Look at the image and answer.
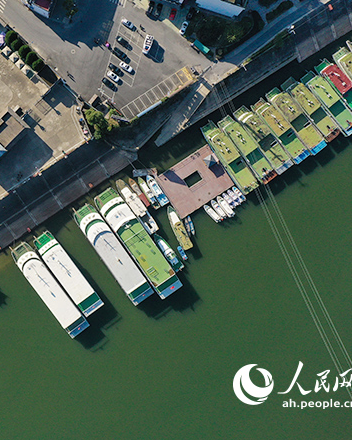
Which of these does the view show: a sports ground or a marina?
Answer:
marina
